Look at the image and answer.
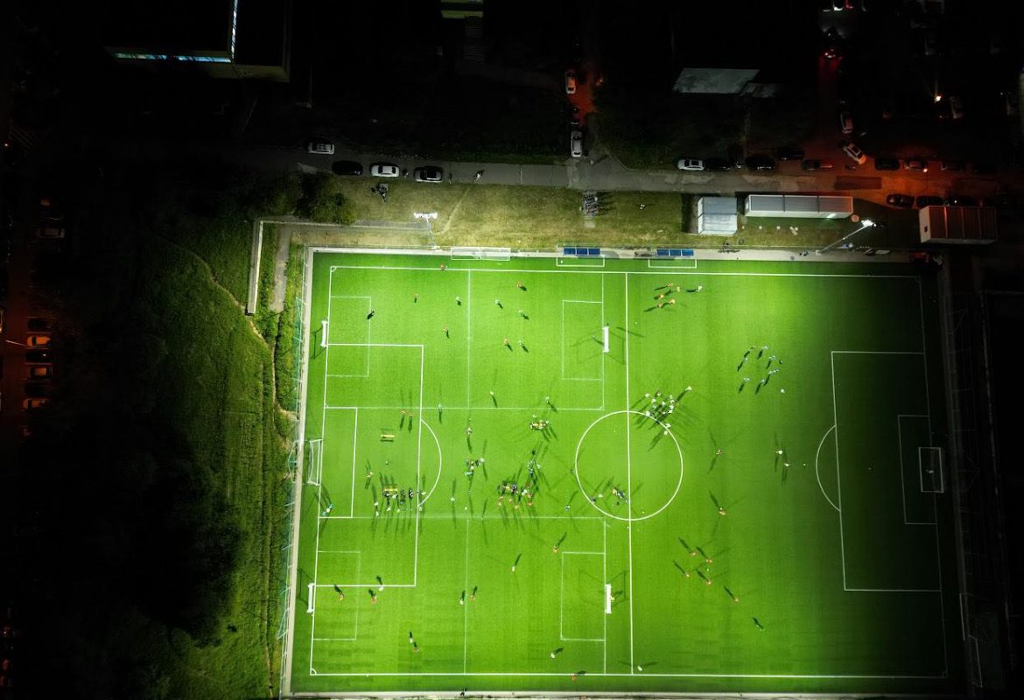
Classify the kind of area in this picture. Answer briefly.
sports ground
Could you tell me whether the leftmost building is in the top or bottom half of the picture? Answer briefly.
top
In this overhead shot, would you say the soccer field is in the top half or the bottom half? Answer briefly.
bottom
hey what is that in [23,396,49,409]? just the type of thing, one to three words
vehicle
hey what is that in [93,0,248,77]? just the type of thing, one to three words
building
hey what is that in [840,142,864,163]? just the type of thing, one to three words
car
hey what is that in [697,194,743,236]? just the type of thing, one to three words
shed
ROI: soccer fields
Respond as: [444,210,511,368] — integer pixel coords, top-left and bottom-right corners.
[290,252,967,695]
